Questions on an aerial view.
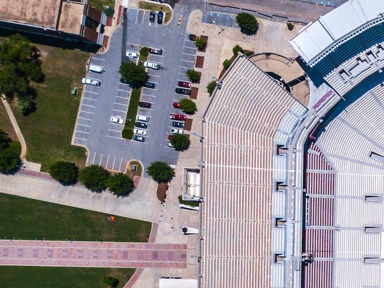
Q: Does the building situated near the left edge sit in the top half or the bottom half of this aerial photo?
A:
top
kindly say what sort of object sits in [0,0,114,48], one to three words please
building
